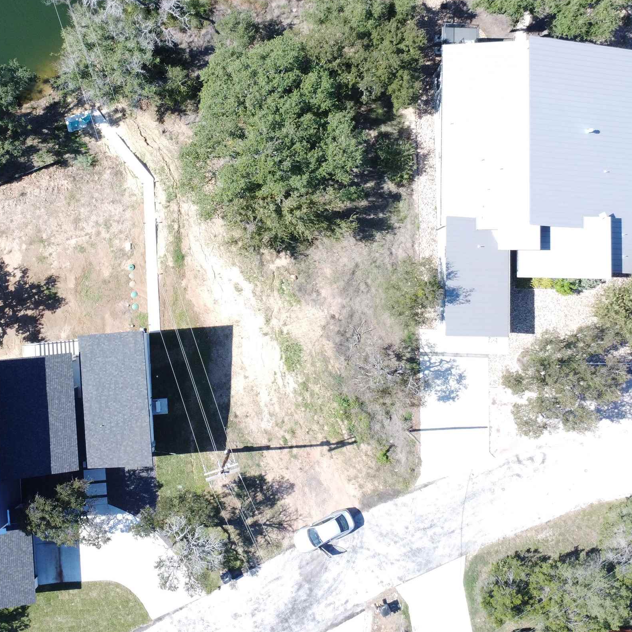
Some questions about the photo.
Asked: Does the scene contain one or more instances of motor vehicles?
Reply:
Yes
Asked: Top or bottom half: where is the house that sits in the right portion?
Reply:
top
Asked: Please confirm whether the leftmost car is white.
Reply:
Yes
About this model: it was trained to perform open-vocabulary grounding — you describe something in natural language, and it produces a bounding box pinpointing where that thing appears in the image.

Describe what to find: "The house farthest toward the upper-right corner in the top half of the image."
[436,35,632,337]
